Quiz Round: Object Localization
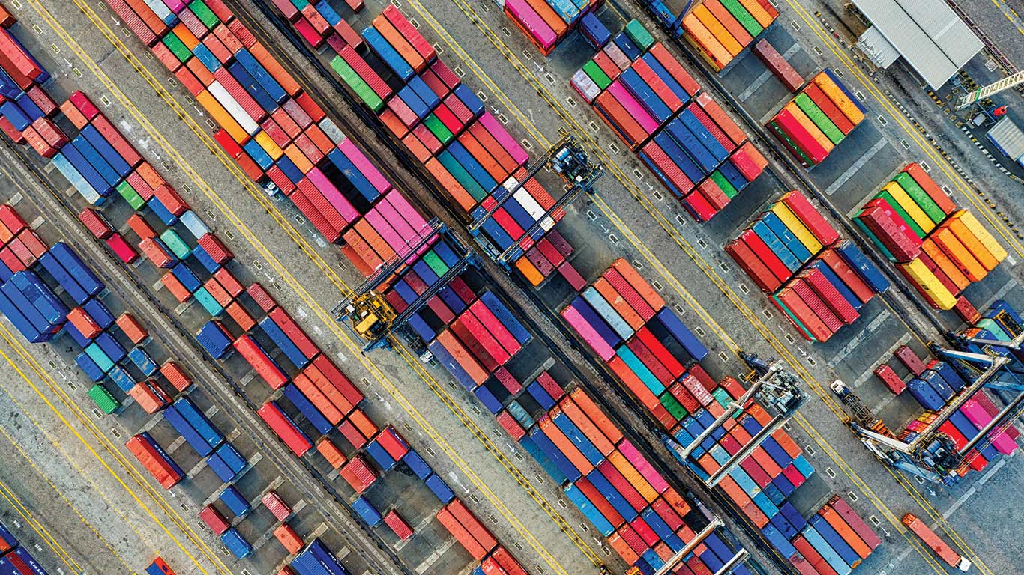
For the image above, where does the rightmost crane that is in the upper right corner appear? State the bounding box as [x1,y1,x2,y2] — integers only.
[945,70,1024,114]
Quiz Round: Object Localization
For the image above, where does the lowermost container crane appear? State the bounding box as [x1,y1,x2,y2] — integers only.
[651,485,751,575]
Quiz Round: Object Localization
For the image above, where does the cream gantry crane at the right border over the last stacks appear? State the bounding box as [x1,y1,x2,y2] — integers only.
[947,329,1024,378]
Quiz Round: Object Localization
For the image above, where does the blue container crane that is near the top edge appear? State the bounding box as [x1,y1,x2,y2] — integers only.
[642,0,692,38]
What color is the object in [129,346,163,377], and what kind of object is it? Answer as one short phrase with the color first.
blue shipping container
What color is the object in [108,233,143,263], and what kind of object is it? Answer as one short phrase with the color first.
red shipping container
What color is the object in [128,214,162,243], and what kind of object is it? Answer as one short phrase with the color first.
red shipping container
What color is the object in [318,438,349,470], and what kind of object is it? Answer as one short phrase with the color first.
orange shipping container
